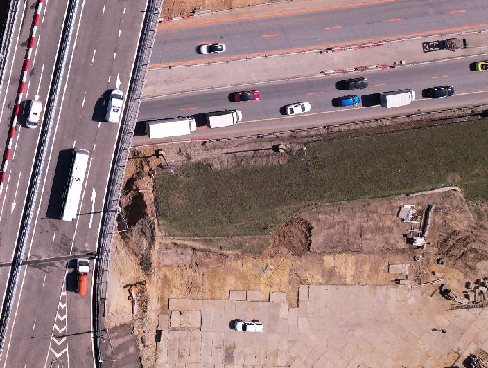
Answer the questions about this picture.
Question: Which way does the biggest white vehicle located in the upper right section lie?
from side to side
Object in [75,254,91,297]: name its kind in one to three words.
vehicle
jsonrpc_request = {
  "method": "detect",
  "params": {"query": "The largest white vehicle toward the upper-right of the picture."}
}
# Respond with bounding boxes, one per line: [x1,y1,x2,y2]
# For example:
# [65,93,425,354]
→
[375,89,410,108]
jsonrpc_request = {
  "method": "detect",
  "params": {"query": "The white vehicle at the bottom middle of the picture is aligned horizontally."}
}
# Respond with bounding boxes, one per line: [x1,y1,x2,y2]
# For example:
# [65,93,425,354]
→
[235,319,262,333]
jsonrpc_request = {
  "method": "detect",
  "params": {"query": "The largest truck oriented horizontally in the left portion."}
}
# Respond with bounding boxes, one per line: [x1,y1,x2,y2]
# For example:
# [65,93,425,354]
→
[145,115,194,138]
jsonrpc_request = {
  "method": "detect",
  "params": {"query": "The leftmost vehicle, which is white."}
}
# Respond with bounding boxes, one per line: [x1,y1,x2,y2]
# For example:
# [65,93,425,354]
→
[26,97,42,129]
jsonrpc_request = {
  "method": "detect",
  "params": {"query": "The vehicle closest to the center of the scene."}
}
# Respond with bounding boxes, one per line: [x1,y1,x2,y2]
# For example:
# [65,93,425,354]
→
[204,108,239,128]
